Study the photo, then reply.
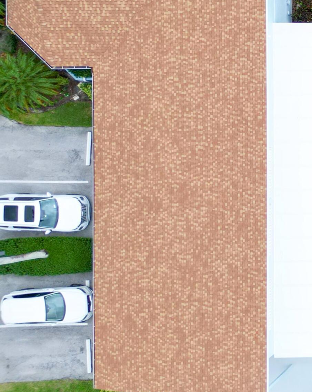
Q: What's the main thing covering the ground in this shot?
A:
buildings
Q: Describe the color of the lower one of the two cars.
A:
white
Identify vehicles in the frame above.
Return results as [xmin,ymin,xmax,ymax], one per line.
[0,191,91,237]
[0,283,91,328]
